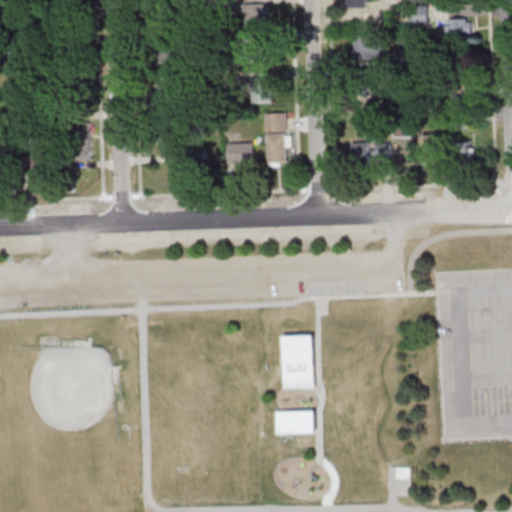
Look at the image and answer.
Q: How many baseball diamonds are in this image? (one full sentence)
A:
Only 1 baseball diamond is visible.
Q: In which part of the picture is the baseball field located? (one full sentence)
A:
You can find the baseball field in the bottom left area of the picture.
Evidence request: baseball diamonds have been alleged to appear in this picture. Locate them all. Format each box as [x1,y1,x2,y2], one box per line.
[30,346,114,431]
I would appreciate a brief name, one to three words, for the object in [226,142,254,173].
house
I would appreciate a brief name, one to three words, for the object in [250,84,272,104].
house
